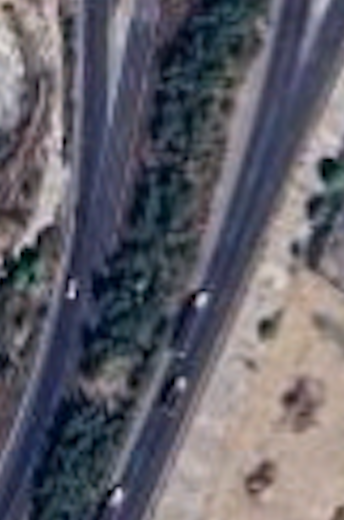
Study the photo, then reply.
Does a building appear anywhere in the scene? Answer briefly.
No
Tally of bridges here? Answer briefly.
zero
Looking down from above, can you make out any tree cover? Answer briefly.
Yes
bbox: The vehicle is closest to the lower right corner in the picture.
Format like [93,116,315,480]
[166,377,184,402]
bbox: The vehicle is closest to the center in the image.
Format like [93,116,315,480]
[181,294,204,331]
